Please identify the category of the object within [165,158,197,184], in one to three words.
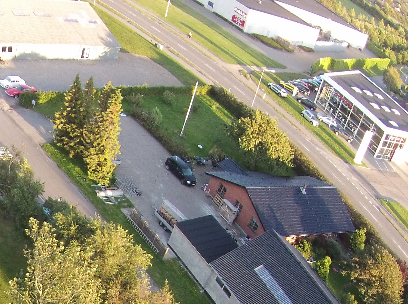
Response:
car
